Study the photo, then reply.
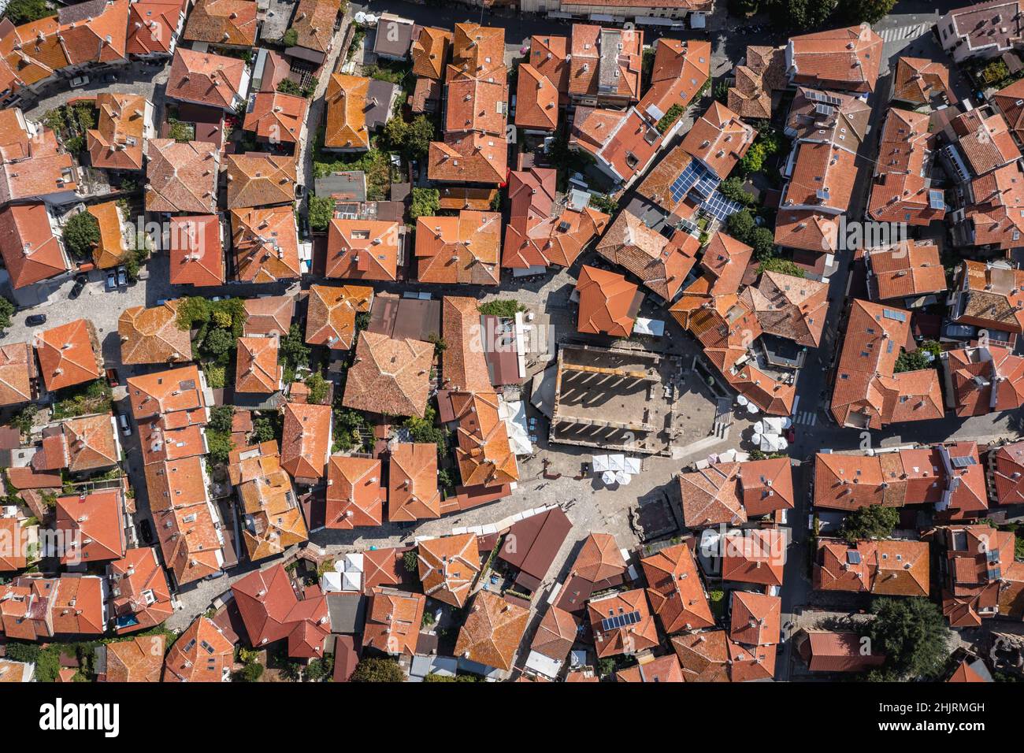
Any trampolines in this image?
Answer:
No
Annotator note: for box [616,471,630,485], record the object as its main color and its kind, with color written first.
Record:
white umbrella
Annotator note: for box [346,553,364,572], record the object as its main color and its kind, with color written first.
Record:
white umbrella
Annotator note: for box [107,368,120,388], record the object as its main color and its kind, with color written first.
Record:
red vehicle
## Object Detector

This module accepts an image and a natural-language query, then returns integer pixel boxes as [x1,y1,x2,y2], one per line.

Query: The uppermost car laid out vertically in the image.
[973,85,985,107]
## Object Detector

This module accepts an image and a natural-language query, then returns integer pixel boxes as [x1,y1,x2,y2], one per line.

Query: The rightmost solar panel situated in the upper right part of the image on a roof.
[929,190,944,209]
